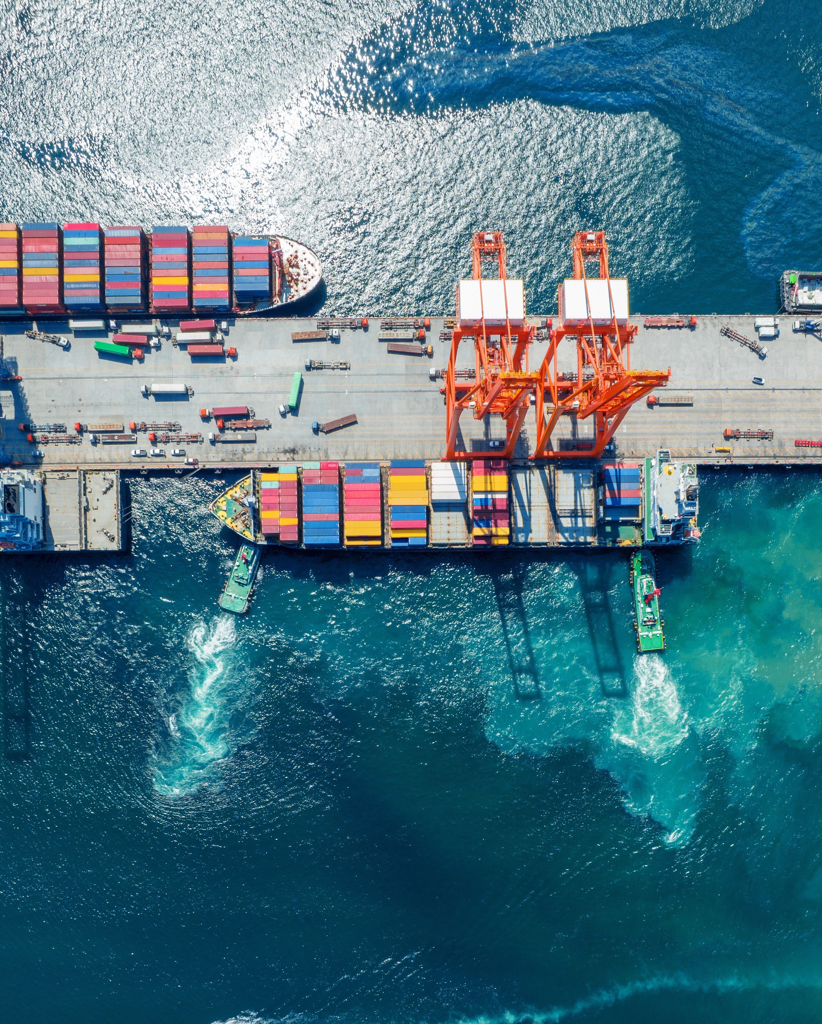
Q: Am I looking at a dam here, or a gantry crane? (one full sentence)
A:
Looking from above, you can make out a gantry crane.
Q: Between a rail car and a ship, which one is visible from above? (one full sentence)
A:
This aerial view contains a ship.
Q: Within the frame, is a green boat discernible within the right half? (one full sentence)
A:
Yes, a green boat shows up within the right half.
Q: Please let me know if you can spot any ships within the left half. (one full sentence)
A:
Yes, there is a ship within the left half.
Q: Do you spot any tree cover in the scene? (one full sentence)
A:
No, no tree cover is visible.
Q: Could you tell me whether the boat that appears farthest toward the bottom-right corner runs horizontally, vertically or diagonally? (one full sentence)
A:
I'd say the boat that appears farthest toward the bottom-right corner is aligned vertically in the picture.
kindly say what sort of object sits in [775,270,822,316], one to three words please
ship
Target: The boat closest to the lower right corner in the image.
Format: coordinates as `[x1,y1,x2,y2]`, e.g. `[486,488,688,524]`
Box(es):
[632,548,669,654]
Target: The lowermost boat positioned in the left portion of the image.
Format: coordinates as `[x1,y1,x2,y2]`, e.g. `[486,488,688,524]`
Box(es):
[218,535,263,616]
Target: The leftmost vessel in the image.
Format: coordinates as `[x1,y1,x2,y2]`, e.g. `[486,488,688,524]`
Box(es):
[0,466,126,556]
